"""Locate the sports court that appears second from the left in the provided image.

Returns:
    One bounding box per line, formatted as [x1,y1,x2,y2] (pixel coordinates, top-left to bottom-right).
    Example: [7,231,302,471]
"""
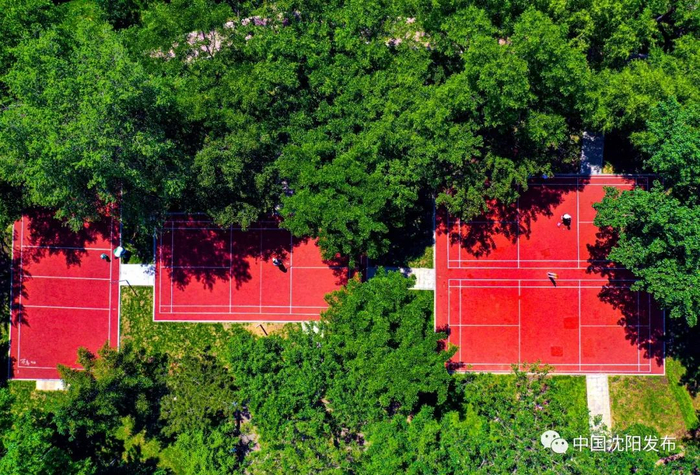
[152,213,368,323]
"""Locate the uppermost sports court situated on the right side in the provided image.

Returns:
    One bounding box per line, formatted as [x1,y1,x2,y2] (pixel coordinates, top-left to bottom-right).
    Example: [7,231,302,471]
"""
[434,174,666,275]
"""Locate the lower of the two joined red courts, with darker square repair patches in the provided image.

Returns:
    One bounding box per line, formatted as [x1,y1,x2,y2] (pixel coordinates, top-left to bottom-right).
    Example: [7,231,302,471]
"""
[434,274,667,376]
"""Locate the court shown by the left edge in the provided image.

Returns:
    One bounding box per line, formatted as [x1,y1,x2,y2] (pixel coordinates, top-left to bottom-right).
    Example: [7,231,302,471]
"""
[8,185,122,382]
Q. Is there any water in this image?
No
